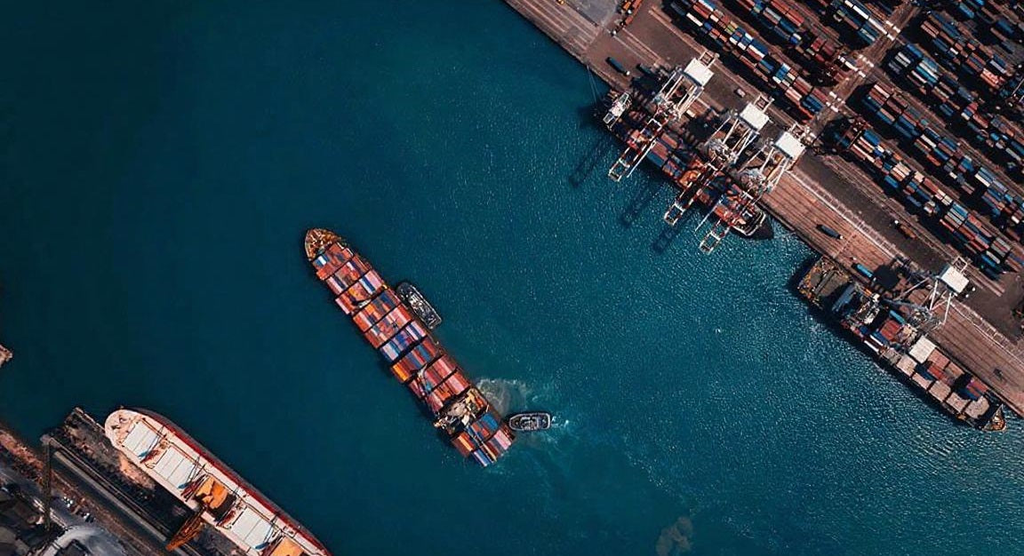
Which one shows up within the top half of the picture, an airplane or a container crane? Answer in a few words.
container crane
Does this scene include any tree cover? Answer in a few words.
No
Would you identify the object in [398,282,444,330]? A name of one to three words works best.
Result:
boat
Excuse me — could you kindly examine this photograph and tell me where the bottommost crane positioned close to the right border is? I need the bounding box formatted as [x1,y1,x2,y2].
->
[879,251,975,322]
